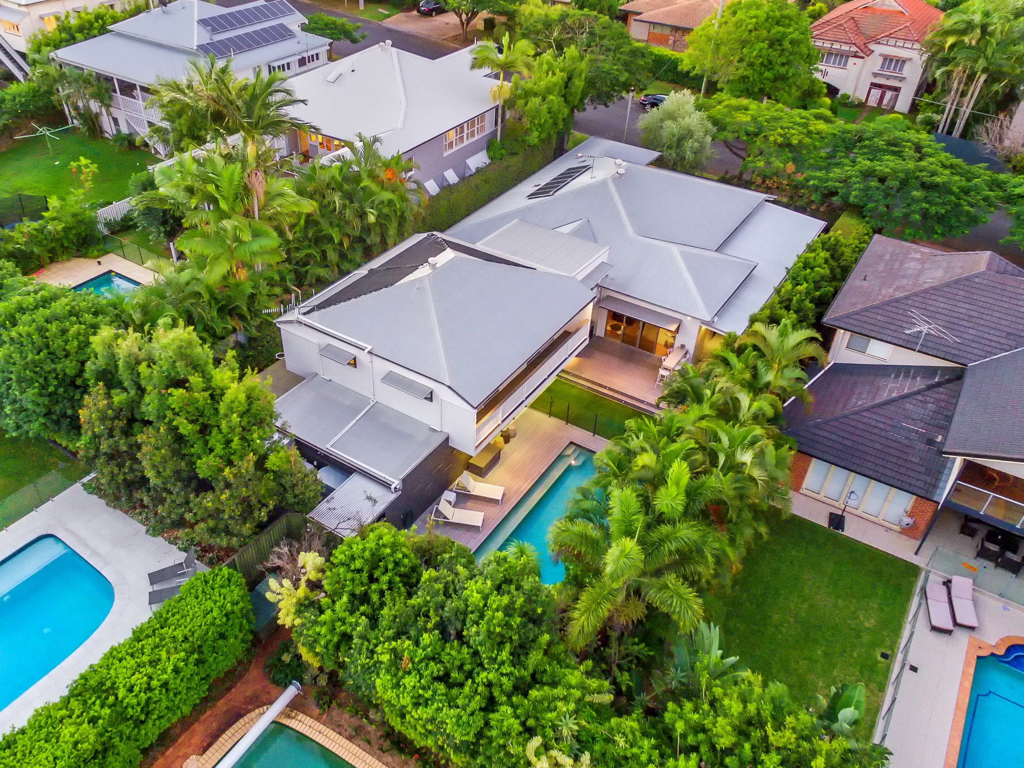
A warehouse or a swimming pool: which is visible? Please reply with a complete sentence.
Visible in the photo is a swimming pool.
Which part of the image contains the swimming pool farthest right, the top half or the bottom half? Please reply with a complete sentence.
Seen from above, the swimming pool farthest right lies in the bottom half of the view.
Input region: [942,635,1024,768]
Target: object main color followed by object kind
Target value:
blue swimming pool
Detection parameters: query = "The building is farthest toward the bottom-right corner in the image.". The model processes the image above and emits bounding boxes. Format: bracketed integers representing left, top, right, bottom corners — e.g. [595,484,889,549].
[772,221,1024,555]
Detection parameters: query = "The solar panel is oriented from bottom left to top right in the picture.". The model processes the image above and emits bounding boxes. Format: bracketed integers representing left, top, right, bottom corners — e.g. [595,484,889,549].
[527,163,592,197]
